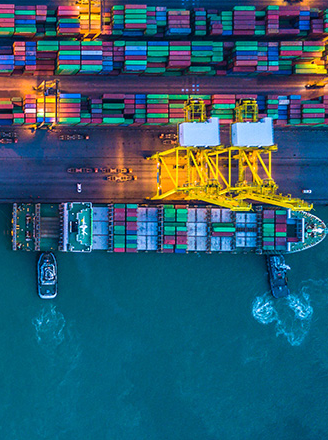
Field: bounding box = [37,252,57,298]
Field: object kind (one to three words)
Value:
boat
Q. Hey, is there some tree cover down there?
No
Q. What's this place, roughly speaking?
port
